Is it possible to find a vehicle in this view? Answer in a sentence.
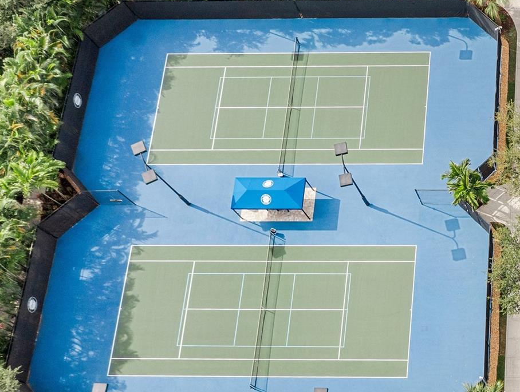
No, there appears to be no vehicle in this shot.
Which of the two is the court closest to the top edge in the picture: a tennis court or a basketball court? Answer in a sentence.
The court closest to the top edge in the image is a tennis court.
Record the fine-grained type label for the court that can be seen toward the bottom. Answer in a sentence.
What you see as the court that can be seen toward the bottom is a tennis court.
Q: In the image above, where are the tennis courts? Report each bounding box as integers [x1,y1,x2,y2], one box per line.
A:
[147,51,431,165]
[108,246,416,377]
